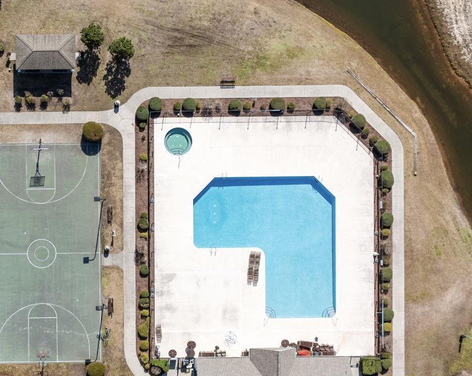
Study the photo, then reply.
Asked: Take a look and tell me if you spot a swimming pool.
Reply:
Yes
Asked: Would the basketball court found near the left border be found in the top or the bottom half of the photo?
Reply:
bottom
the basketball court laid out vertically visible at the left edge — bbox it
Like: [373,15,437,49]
[0,144,102,364]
